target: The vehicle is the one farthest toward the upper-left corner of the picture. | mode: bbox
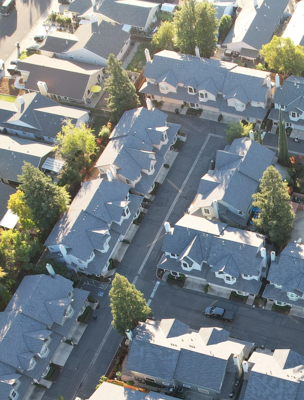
[0,0,17,14]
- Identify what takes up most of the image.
buildings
